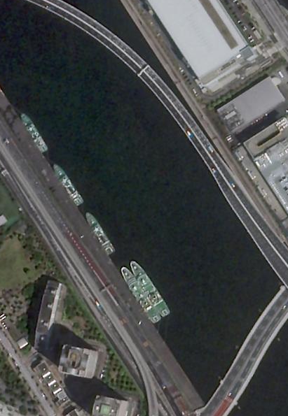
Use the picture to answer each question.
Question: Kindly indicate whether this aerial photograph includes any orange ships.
No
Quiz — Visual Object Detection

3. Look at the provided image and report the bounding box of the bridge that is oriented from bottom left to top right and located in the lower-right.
[198,282,288,416]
